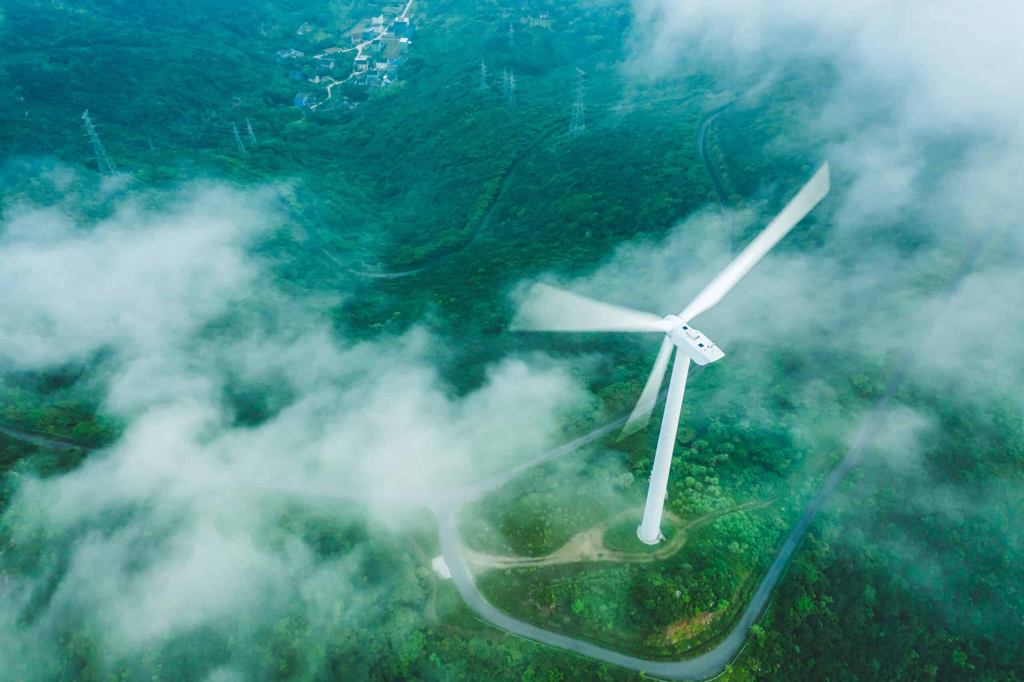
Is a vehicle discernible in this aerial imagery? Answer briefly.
No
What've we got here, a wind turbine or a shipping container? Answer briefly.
wind turbine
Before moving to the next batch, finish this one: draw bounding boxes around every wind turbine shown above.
[521,177,827,544]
